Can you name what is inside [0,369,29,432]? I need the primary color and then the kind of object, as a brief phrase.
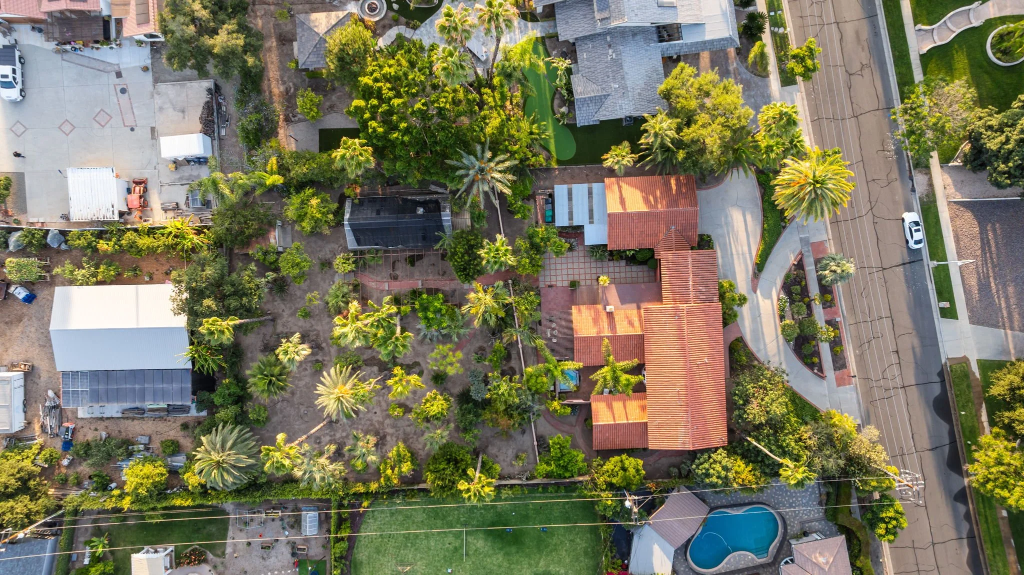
white trailer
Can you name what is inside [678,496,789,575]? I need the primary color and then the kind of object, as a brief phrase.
blue swimming pool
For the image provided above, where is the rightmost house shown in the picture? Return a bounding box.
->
[772,532,851,575]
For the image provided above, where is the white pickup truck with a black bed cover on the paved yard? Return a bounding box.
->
[0,44,25,104]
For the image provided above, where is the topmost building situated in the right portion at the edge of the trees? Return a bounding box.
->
[533,0,741,127]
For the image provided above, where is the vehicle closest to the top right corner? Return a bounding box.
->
[902,211,925,250]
